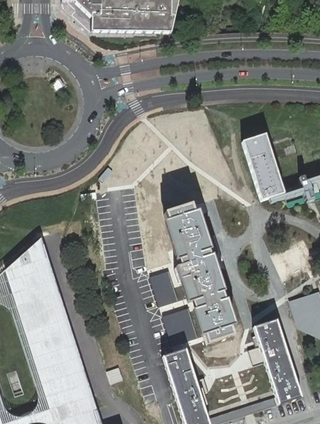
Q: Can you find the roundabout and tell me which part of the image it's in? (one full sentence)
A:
Look in the top left portion of the view to spot the roundabout.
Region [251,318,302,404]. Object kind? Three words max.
building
